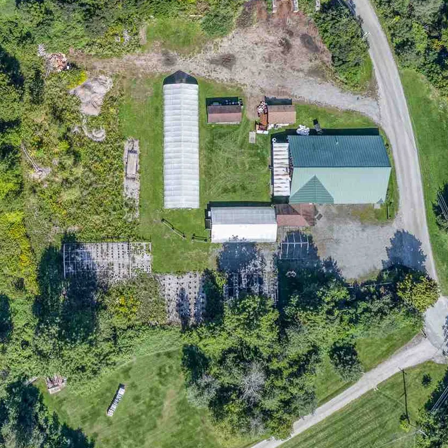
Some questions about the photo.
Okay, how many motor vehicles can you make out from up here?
0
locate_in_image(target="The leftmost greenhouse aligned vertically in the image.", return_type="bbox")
[163,82,199,208]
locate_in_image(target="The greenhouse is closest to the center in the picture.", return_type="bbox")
[206,207,277,242]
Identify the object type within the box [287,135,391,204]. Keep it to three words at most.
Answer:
barn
